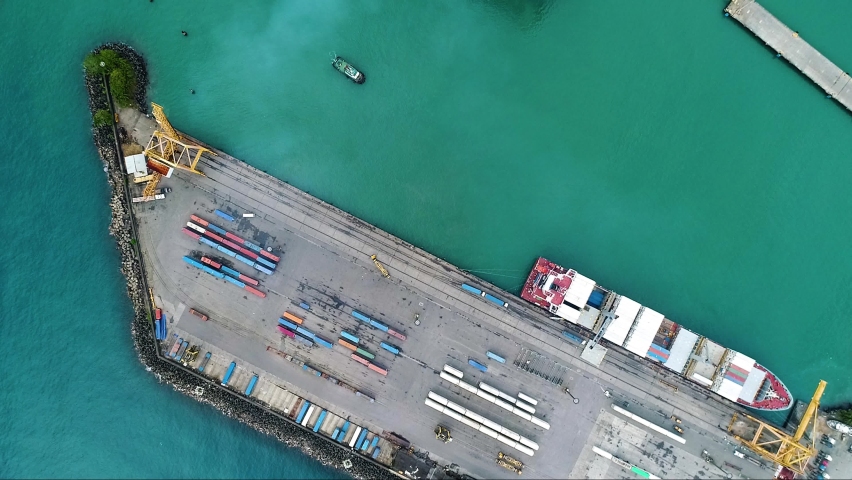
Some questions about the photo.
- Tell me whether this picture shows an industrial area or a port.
port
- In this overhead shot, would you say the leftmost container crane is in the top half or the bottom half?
top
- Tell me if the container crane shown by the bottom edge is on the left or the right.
right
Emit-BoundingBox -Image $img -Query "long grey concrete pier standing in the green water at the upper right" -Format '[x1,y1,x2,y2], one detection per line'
[725,0,852,114]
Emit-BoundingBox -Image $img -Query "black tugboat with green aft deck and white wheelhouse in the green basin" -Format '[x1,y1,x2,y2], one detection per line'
[333,58,365,84]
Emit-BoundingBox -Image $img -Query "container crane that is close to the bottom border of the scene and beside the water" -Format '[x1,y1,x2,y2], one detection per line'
[732,379,828,480]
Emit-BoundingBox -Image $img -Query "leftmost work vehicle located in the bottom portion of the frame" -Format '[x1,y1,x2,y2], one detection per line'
[181,344,204,364]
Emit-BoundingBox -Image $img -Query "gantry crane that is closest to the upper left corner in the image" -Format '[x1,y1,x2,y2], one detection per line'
[140,101,220,202]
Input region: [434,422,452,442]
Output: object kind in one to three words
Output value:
work vehicle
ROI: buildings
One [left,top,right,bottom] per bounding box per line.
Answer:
[125,154,151,178]
[392,447,440,480]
